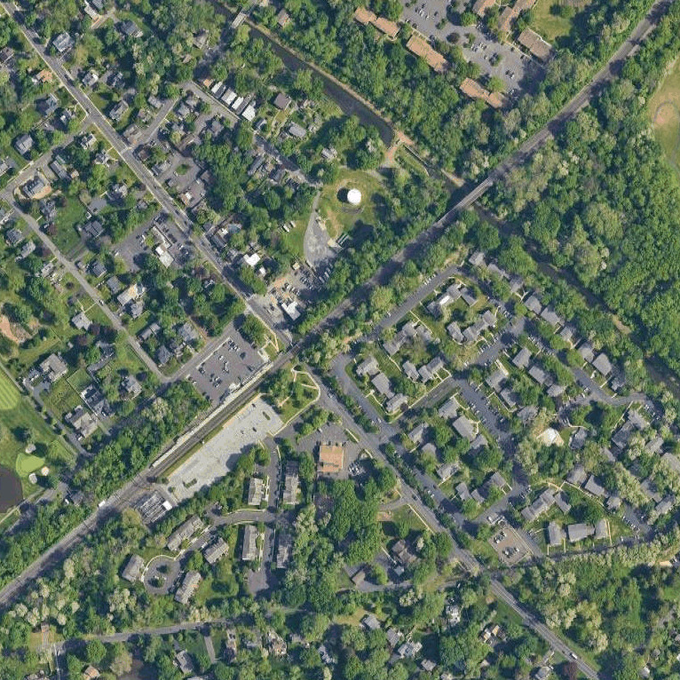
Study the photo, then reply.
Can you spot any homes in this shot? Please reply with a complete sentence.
Yes, this view includes a home.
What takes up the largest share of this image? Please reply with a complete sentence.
The scene is dominated by trees.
